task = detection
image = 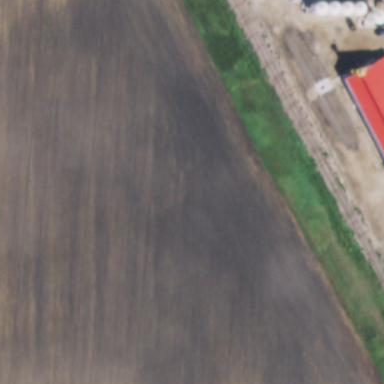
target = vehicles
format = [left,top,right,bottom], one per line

[374,27,384,34]
[344,16,356,30]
